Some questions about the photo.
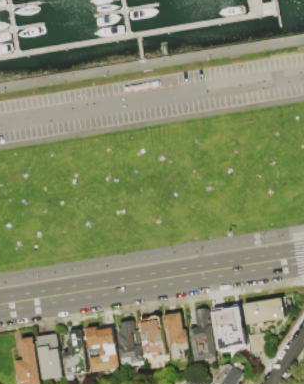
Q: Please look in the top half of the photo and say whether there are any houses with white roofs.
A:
No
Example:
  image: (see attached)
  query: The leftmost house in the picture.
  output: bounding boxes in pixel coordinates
[16,337,41,384]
